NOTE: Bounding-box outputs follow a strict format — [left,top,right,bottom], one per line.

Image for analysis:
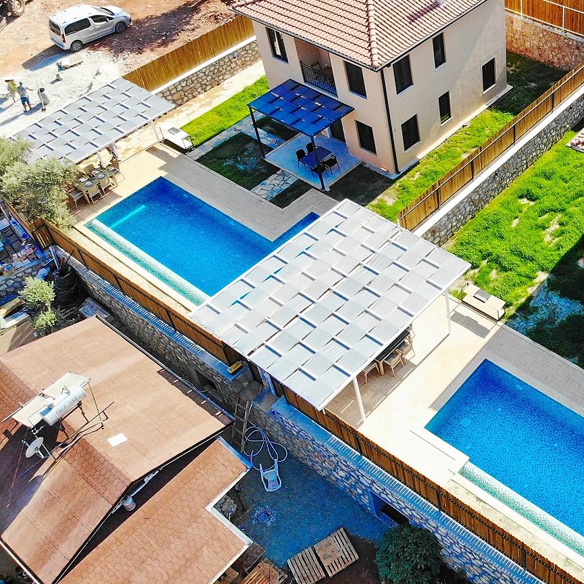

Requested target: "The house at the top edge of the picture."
[228,0,519,183]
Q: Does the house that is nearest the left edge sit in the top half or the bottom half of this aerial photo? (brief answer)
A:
bottom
